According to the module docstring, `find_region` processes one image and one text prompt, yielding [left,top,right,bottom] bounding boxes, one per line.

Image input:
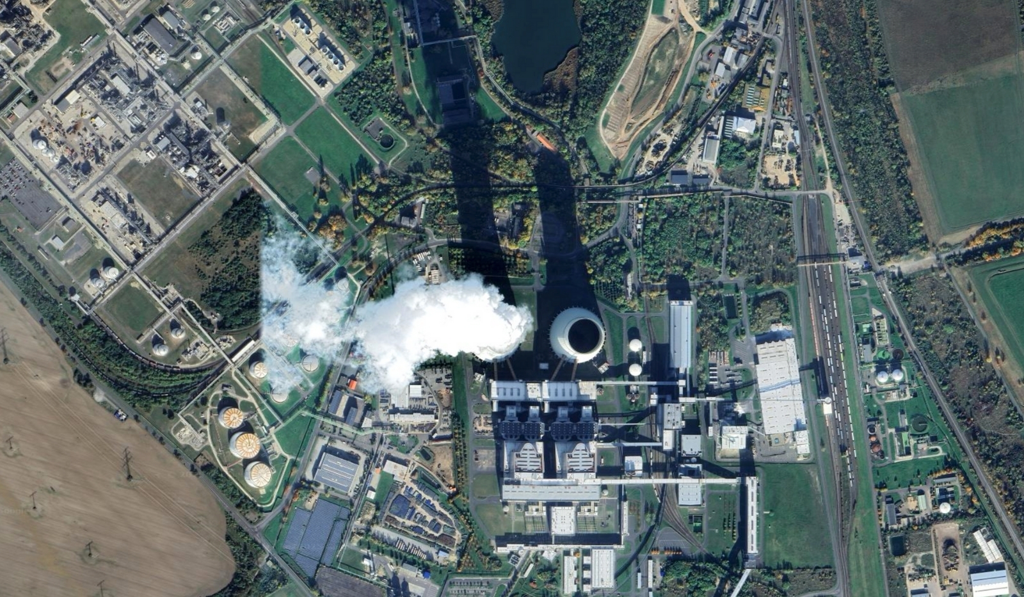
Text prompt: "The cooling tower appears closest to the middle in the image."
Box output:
[465,302,528,365]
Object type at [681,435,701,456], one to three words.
building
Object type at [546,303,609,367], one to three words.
cooling tower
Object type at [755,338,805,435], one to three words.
building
